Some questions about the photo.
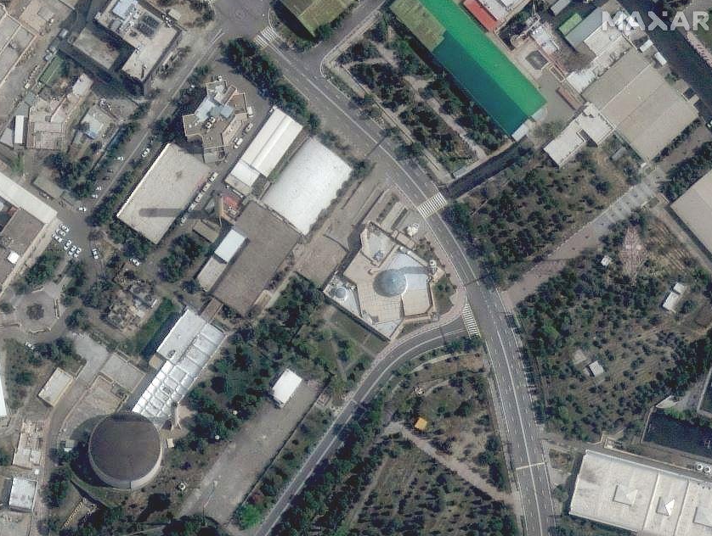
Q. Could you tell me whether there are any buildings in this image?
Yes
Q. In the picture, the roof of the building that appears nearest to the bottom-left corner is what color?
white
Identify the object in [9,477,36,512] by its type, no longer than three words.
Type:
building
